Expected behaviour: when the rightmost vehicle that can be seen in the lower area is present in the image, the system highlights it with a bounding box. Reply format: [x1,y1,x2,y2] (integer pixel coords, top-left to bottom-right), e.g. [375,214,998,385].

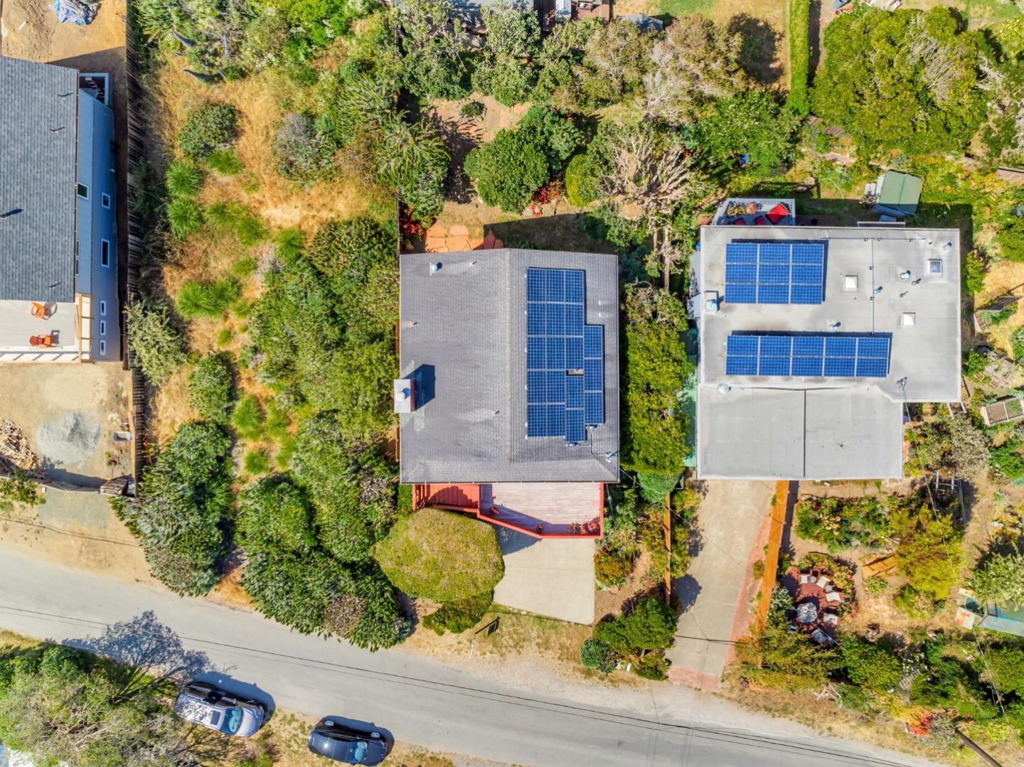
[305,720,389,767]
